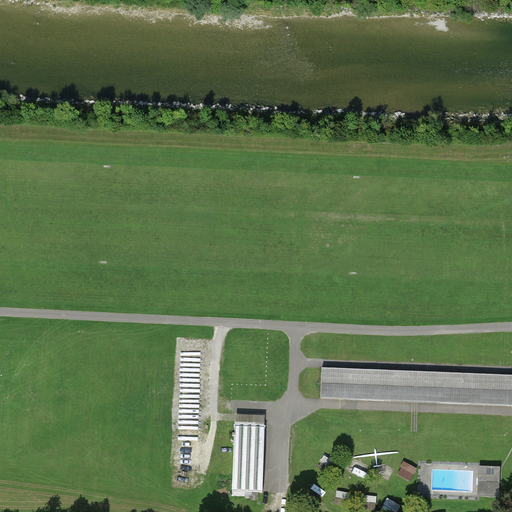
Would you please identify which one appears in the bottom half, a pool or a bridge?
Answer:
pool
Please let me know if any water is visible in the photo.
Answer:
Yes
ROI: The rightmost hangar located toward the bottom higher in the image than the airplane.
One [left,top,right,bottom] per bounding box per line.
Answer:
[320,368,512,407]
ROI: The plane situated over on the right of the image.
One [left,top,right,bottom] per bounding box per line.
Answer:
[354,449,398,468]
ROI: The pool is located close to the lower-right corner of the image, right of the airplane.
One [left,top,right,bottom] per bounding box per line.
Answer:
[418,461,480,500]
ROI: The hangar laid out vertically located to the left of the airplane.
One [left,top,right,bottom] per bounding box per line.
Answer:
[232,412,266,500]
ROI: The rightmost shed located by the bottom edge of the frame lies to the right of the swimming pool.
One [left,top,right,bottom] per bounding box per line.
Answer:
[478,466,500,498]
